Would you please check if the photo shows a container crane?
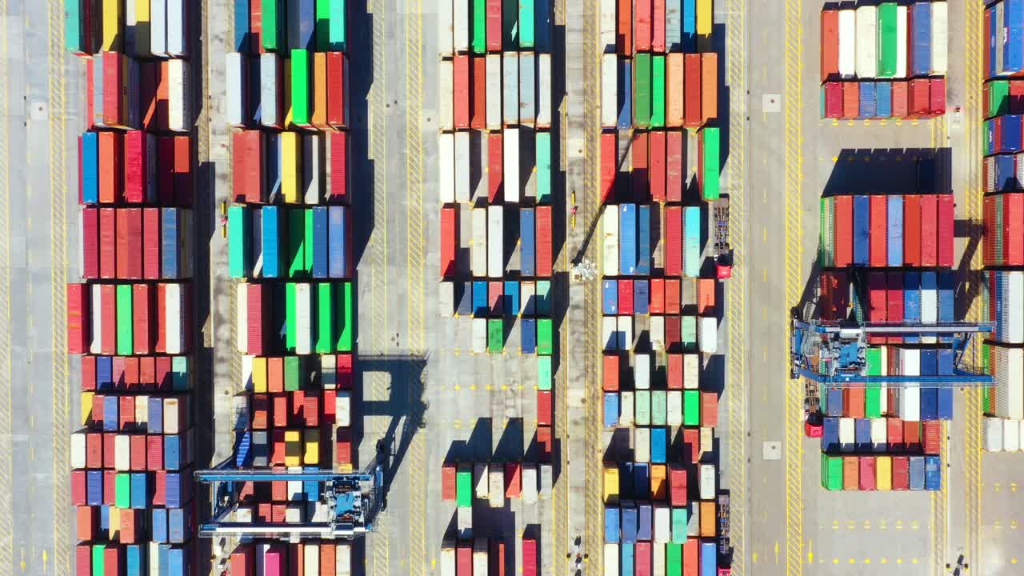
Yes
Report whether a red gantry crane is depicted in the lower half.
No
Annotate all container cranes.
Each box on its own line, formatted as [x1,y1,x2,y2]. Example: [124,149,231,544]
[196,445,386,539]
[788,302,996,388]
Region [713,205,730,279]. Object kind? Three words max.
vehicle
